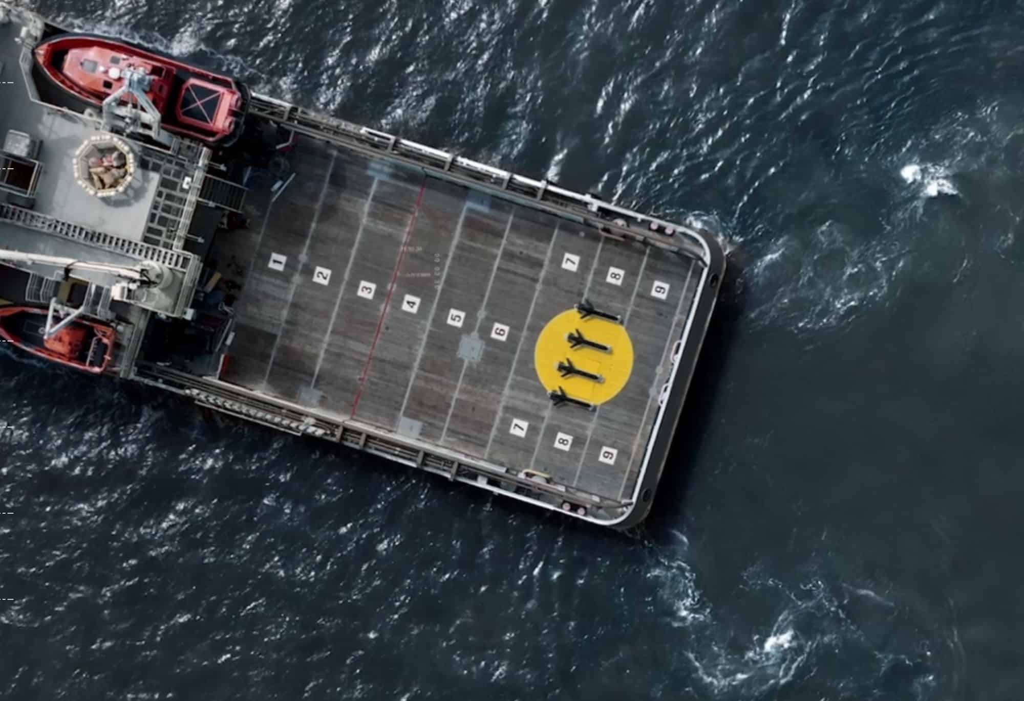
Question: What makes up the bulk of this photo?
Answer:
water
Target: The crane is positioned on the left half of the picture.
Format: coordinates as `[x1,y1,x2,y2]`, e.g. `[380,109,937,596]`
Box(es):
[0,248,187,301]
